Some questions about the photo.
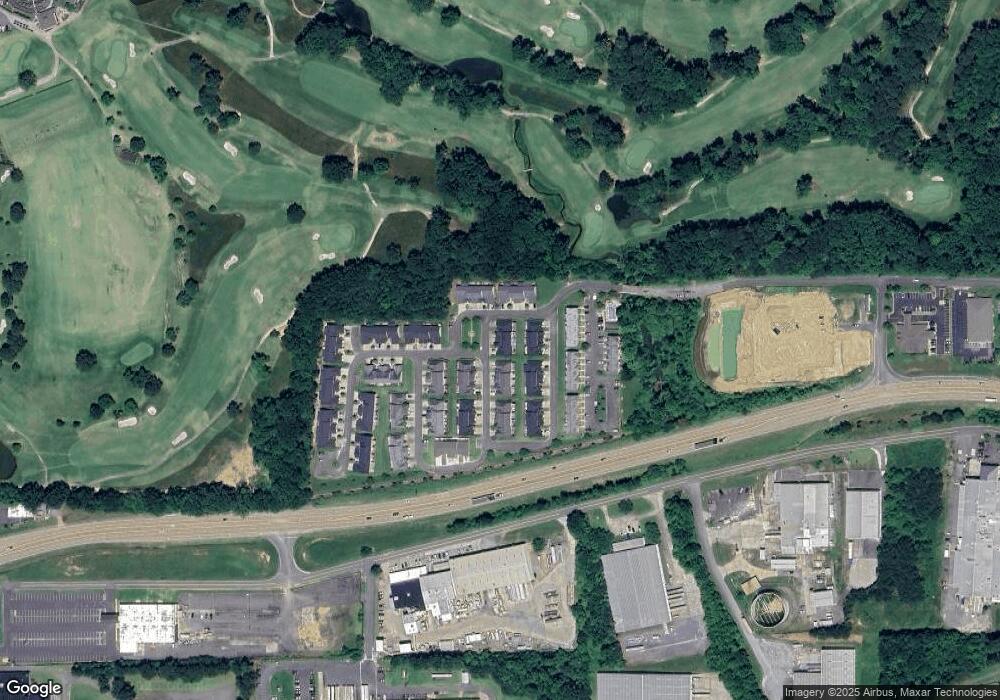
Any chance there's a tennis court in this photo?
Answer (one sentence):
No, I can't see a single tennis court in this photo.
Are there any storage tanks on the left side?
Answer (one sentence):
No, no storage tank appears on the left side.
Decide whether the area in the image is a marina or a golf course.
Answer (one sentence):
It's a golf course.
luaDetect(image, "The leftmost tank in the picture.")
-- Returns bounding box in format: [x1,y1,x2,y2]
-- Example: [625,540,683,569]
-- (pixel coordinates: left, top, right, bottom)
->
[752,592,789,629]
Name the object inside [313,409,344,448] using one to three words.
house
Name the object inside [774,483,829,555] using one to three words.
building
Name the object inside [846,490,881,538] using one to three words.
shed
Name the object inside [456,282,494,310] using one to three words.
house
